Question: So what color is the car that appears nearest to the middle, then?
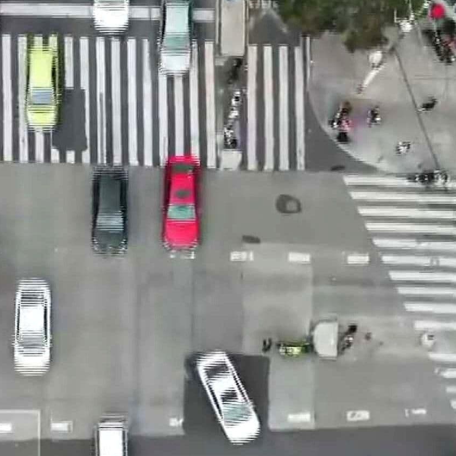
red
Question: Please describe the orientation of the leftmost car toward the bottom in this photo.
up and down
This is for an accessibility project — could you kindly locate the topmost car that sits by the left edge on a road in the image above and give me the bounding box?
[21,35,62,132]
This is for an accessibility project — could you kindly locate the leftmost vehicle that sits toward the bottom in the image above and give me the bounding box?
[10,279,54,376]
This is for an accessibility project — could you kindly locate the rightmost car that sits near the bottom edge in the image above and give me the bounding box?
[196,349,259,445]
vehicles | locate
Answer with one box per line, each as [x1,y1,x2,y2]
[227,54,245,91]
[21,35,62,132]
[196,349,259,445]
[95,414,128,456]
[10,279,54,376]
[157,0,196,77]
[430,27,453,61]
[93,0,130,35]
[90,166,130,255]
[161,155,204,253]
